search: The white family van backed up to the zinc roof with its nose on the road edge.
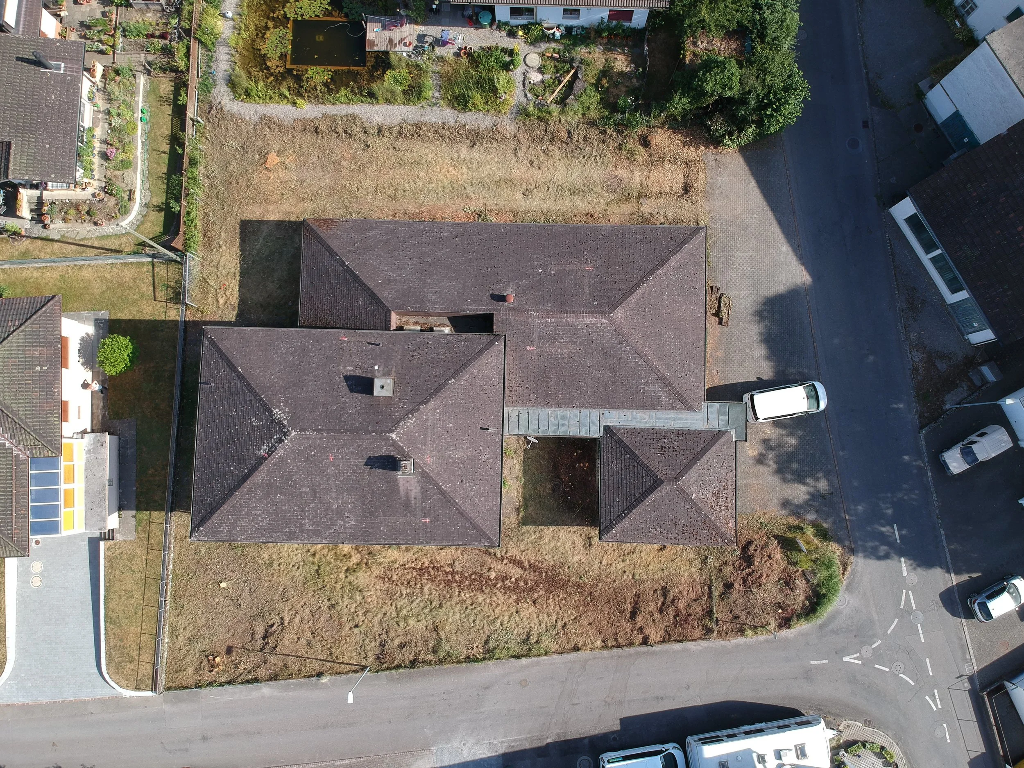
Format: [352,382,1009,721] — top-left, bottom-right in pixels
[742,379,828,424]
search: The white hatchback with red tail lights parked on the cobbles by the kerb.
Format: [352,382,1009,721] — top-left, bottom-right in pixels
[968,566,1024,624]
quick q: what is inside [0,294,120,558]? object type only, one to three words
house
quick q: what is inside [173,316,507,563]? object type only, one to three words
house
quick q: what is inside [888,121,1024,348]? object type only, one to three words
barn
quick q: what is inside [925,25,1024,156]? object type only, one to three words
building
